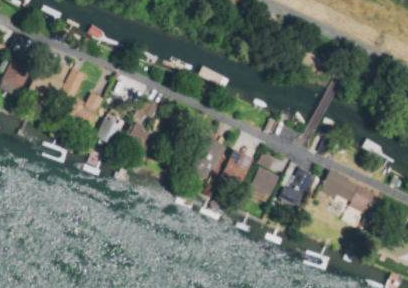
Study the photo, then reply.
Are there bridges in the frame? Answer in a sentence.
Yes, the picture does show a bridge.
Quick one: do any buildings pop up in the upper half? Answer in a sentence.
Yes, the scene does show a building in the upper half.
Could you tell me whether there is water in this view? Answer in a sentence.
Yes, there's water in this view.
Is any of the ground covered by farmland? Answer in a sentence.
No, the picture contains no farmland.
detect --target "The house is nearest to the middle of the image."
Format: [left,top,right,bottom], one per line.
[193,134,228,180]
